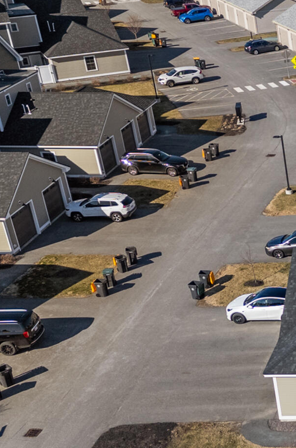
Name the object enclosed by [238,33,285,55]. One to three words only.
car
